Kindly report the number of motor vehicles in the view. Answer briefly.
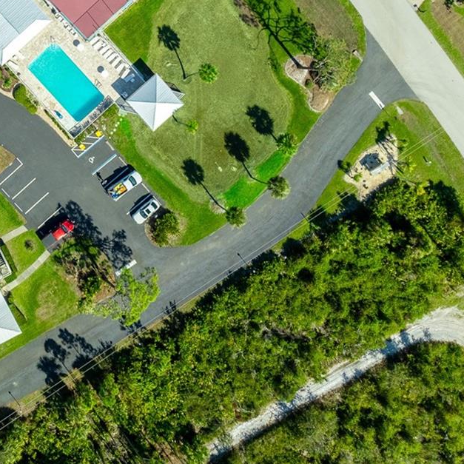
three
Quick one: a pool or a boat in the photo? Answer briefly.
pool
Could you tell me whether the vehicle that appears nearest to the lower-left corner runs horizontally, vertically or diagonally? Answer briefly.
diagonally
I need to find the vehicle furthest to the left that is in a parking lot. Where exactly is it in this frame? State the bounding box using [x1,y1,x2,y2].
[40,219,76,249]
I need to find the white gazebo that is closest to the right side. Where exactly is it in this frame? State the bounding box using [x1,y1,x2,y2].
[125,73,184,132]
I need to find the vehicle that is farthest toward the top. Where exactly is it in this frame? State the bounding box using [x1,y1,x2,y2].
[109,171,143,202]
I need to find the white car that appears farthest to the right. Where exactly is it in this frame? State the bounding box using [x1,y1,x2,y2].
[133,198,160,224]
